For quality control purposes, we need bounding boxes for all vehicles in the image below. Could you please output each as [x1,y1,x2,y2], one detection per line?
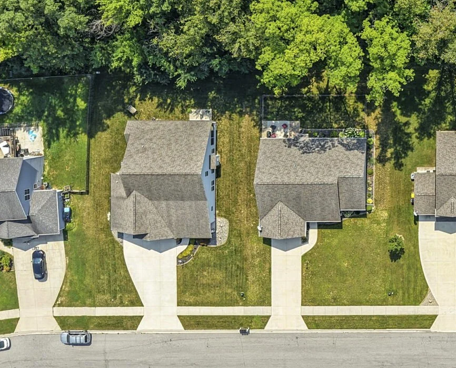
[31,251,48,280]
[62,331,93,347]
[0,336,14,350]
